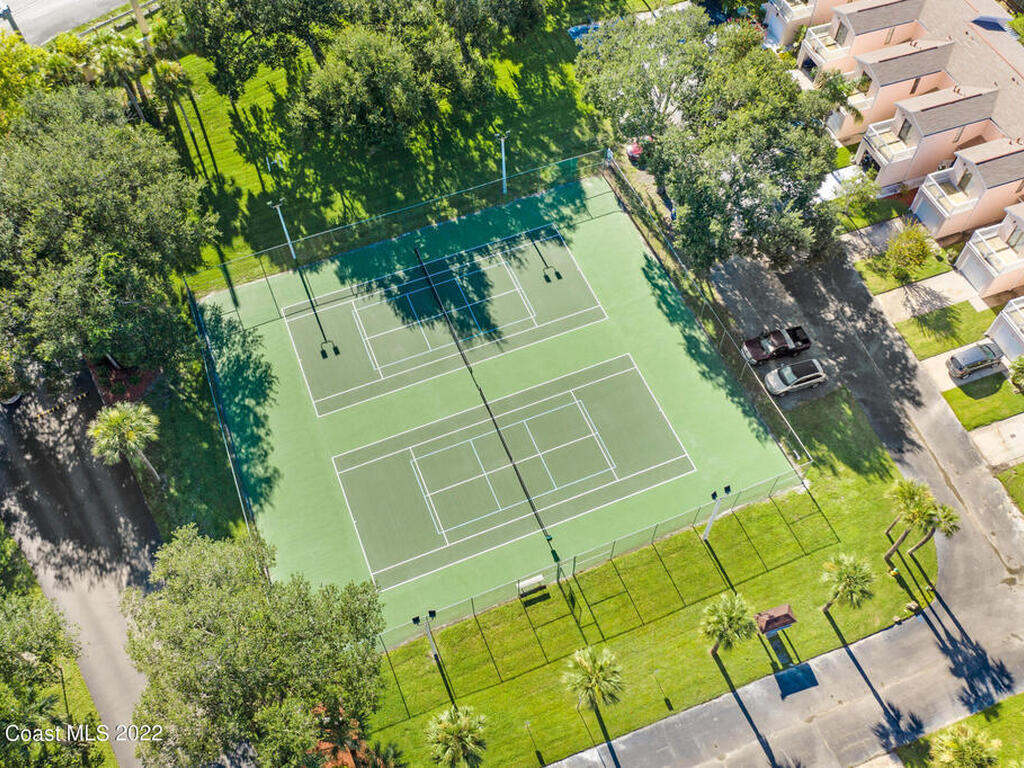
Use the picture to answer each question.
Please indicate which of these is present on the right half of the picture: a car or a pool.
car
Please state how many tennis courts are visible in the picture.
2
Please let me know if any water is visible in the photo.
No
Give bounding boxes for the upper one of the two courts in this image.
[282,223,608,417]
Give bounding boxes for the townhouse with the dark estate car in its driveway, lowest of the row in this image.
[988,298,1024,366]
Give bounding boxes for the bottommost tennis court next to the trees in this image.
[332,353,696,592]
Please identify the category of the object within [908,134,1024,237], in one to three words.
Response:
house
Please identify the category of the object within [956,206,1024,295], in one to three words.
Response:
house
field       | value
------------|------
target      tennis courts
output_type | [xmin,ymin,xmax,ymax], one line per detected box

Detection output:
[332,353,696,592]
[282,223,608,417]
